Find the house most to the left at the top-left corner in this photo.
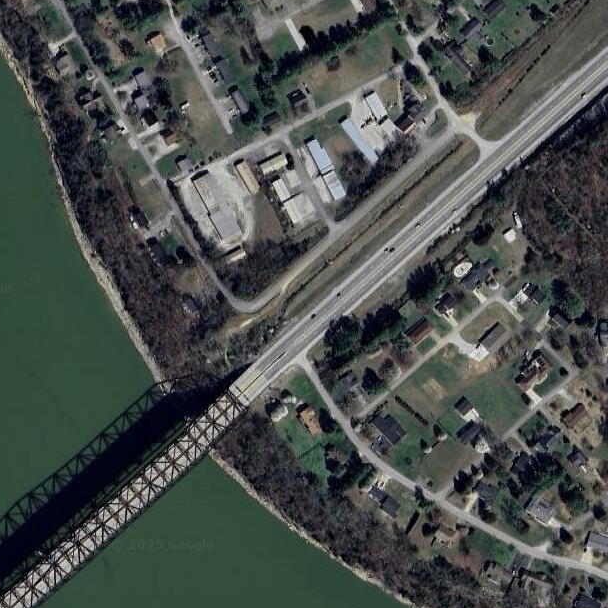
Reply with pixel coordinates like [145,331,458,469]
[51,54,74,76]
